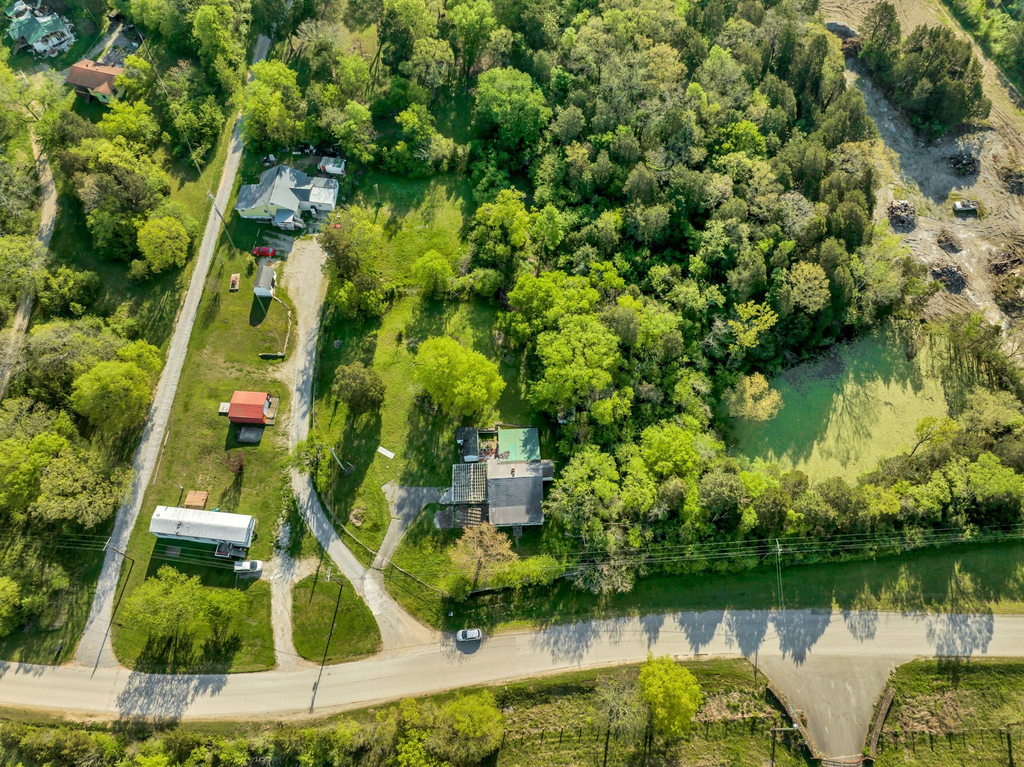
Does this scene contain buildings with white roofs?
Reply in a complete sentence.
Yes, a building with a white roof appears in the view.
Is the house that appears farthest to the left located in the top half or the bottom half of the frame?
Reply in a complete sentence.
The house that appears farthest to the left is in the top half of the image.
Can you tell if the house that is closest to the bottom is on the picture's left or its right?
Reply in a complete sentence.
The house that is closest to the bottom sits on the left side.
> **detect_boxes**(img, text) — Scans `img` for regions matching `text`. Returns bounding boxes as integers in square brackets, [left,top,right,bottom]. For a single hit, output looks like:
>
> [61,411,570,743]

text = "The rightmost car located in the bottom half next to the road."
[456,628,482,642]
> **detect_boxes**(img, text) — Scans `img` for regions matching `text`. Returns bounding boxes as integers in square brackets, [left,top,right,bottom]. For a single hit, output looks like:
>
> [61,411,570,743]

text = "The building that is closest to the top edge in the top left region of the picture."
[7,5,82,60]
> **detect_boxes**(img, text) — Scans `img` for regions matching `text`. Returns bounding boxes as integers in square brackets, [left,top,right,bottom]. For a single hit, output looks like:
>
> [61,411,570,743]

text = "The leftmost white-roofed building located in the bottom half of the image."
[148,505,258,559]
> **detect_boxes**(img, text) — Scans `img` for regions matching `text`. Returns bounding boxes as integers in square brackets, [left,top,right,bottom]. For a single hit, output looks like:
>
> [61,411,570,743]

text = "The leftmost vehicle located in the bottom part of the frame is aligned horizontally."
[234,560,264,573]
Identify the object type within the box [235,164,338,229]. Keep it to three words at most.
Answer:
house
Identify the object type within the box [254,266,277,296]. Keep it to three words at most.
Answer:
shed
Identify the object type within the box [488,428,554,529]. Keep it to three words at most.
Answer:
house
